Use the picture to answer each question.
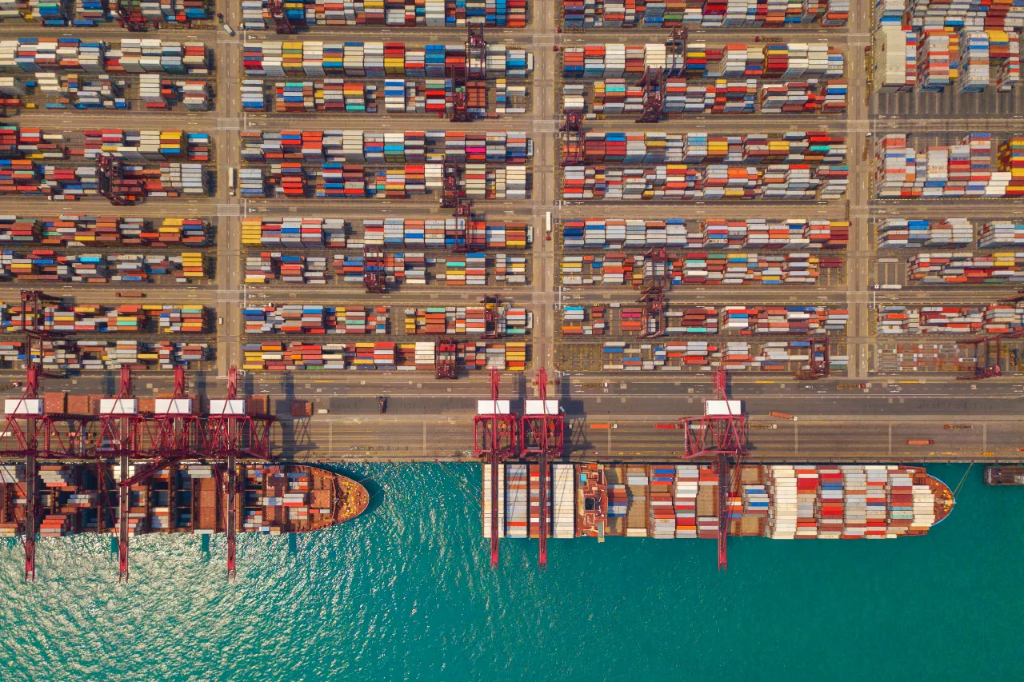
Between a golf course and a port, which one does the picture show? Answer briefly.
port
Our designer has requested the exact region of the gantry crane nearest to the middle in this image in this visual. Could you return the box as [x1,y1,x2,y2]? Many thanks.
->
[480,291,502,337]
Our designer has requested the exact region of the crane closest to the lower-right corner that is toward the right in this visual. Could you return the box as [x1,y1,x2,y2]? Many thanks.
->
[958,335,1001,380]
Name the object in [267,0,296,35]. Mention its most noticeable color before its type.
red container crane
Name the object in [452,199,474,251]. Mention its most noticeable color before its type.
red container crane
